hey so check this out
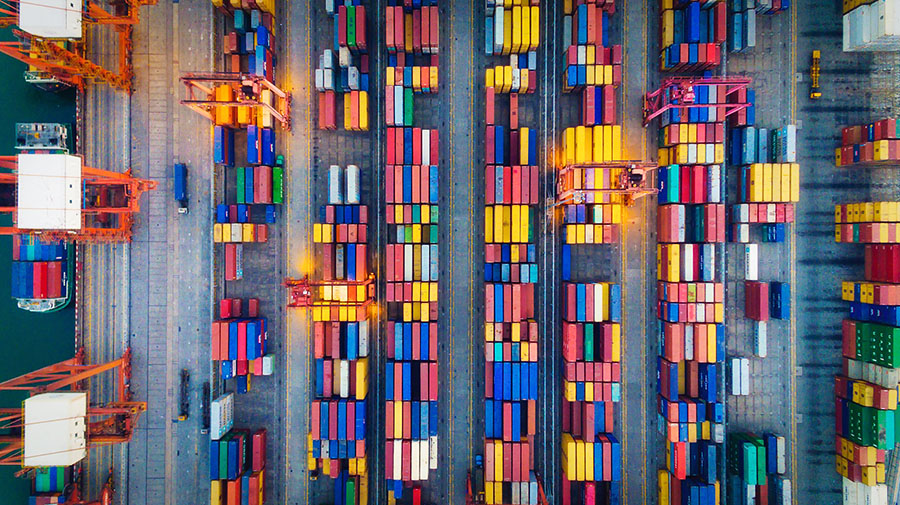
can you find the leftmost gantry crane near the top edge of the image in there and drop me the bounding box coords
[0,0,148,99]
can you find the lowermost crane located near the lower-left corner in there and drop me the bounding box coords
[47,468,114,505]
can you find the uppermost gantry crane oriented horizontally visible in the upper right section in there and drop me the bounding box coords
[644,76,753,129]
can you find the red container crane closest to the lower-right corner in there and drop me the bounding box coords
[467,470,550,505]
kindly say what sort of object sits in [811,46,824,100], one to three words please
vehicle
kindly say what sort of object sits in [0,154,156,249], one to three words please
container crane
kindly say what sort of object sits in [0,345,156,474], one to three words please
container crane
